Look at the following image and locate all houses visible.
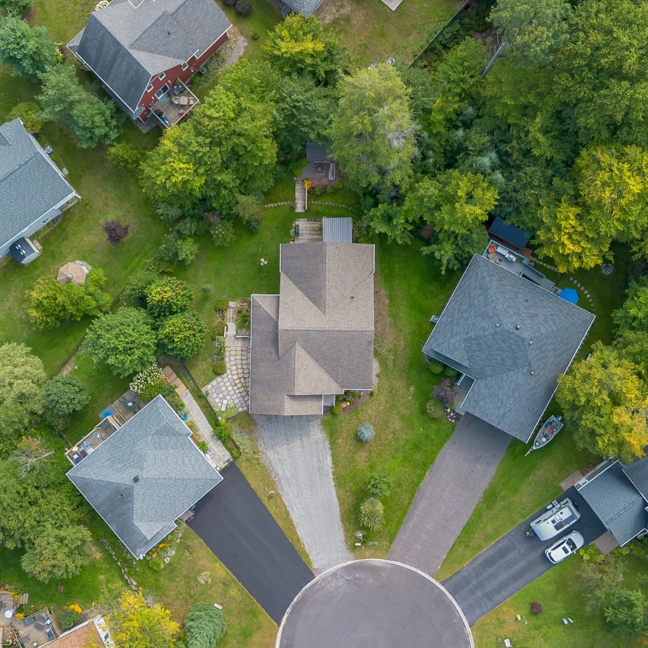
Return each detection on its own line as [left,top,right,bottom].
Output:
[65,393,224,561]
[283,0,325,20]
[249,242,375,416]
[421,252,596,444]
[0,117,81,258]
[66,0,233,124]
[32,611,122,648]
[574,430,648,547]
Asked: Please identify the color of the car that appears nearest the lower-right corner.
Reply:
white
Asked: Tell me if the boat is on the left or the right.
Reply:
right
